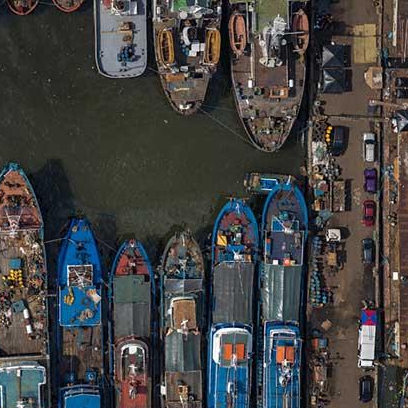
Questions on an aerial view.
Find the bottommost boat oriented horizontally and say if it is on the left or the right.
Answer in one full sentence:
The bottommost boat oriented horizontally sits on the right side.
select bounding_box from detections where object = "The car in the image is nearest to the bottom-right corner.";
[359,376,374,403]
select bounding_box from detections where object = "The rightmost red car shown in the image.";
[363,200,376,226]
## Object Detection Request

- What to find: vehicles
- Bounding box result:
[362,239,375,264]
[333,126,348,156]
[359,376,374,403]
[363,200,376,226]
[359,316,379,370]
[364,132,377,161]
[364,167,378,193]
